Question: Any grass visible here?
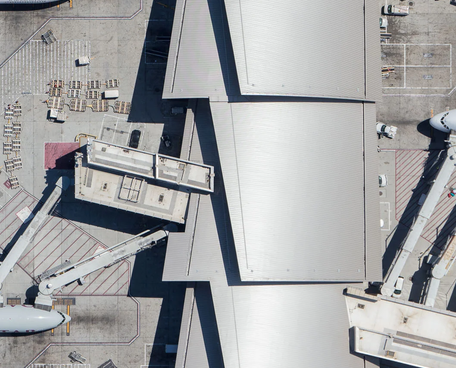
No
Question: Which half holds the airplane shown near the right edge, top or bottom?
top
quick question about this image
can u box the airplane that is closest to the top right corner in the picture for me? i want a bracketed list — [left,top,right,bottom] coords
[430,109,456,132]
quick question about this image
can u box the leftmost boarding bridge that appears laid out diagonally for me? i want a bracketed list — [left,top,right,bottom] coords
[0,174,75,302]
